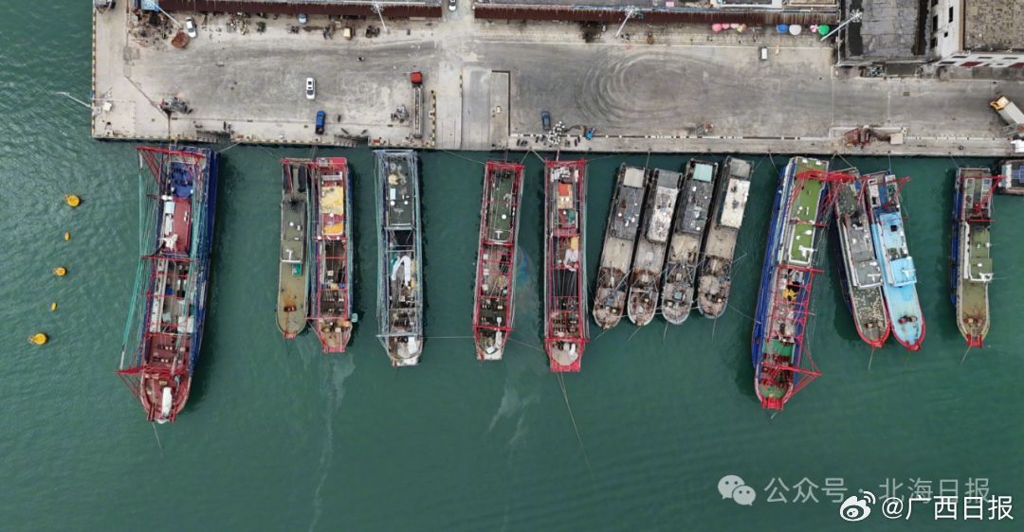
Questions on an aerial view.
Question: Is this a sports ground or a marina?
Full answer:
It's a marina.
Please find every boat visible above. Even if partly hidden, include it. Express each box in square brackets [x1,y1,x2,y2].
[588,154,650,330]
[988,160,1024,197]
[533,150,648,476]
[114,139,235,445]
[855,170,925,350]
[626,169,682,326]
[829,155,889,369]
[255,146,316,338]
[657,161,718,337]
[372,147,466,366]
[446,150,547,361]
[695,153,775,332]
[751,153,860,422]
[939,156,1007,364]
[304,147,359,353]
